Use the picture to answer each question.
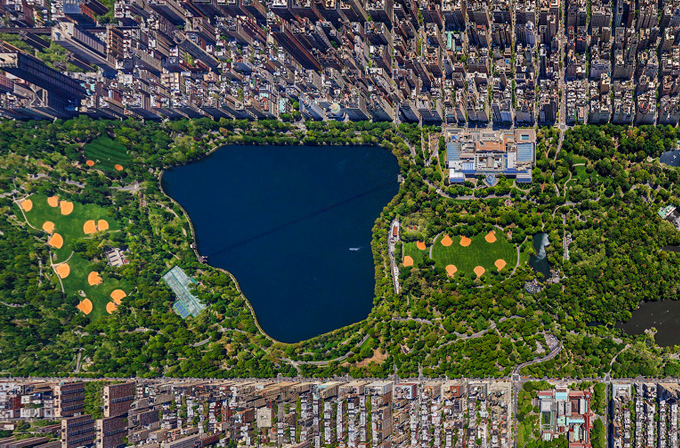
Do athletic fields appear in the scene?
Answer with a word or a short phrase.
Yes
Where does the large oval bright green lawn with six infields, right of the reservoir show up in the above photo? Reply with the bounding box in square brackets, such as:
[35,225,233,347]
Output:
[433,228,519,285]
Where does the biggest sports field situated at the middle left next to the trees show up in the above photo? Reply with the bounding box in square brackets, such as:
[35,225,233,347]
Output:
[18,194,127,319]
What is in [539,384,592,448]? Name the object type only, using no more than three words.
building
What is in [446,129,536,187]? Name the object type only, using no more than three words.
building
